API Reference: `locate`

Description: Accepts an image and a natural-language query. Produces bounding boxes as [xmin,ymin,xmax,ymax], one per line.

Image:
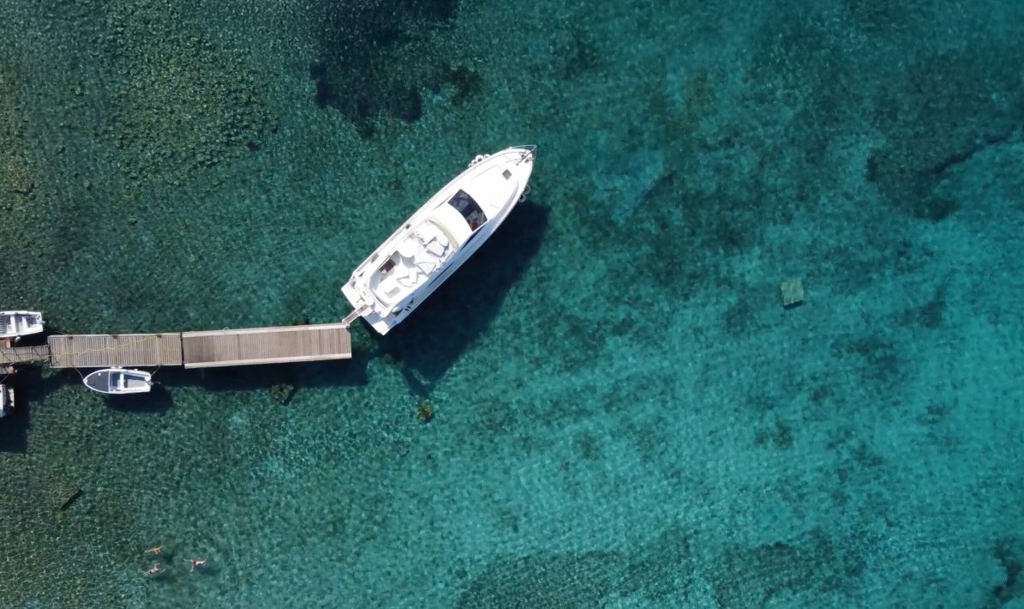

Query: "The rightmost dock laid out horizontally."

[184,321,353,367]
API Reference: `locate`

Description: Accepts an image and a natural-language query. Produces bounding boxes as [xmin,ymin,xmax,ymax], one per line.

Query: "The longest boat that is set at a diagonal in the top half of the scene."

[342,146,534,333]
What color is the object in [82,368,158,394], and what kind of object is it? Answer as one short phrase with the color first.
white boat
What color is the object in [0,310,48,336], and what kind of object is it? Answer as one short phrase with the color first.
white boat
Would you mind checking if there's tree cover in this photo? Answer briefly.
No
